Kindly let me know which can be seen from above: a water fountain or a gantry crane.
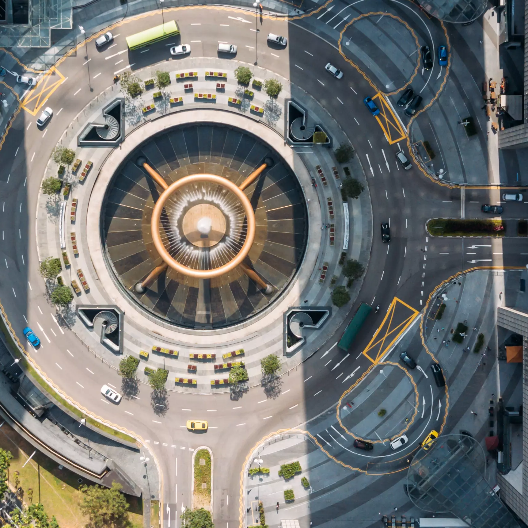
water fountain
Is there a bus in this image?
Yes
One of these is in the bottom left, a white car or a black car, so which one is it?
white car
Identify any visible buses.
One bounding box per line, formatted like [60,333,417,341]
[125,22,183,51]
[333,300,375,354]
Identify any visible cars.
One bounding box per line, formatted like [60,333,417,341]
[397,87,413,109]
[0,66,8,76]
[36,106,54,128]
[380,221,389,242]
[480,204,503,214]
[186,420,208,431]
[399,350,417,372]
[93,31,115,49]
[16,74,38,86]
[422,47,431,68]
[431,362,446,386]
[352,438,374,450]
[170,44,191,55]
[324,61,344,79]
[216,43,239,54]
[265,33,288,45]
[100,385,122,401]
[405,96,422,117]
[504,192,523,202]
[394,151,411,170]
[388,434,409,449]
[23,326,41,348]
[363,96,380,117]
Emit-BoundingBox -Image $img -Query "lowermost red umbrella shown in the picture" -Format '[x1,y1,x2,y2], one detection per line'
[483,435,498,449]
